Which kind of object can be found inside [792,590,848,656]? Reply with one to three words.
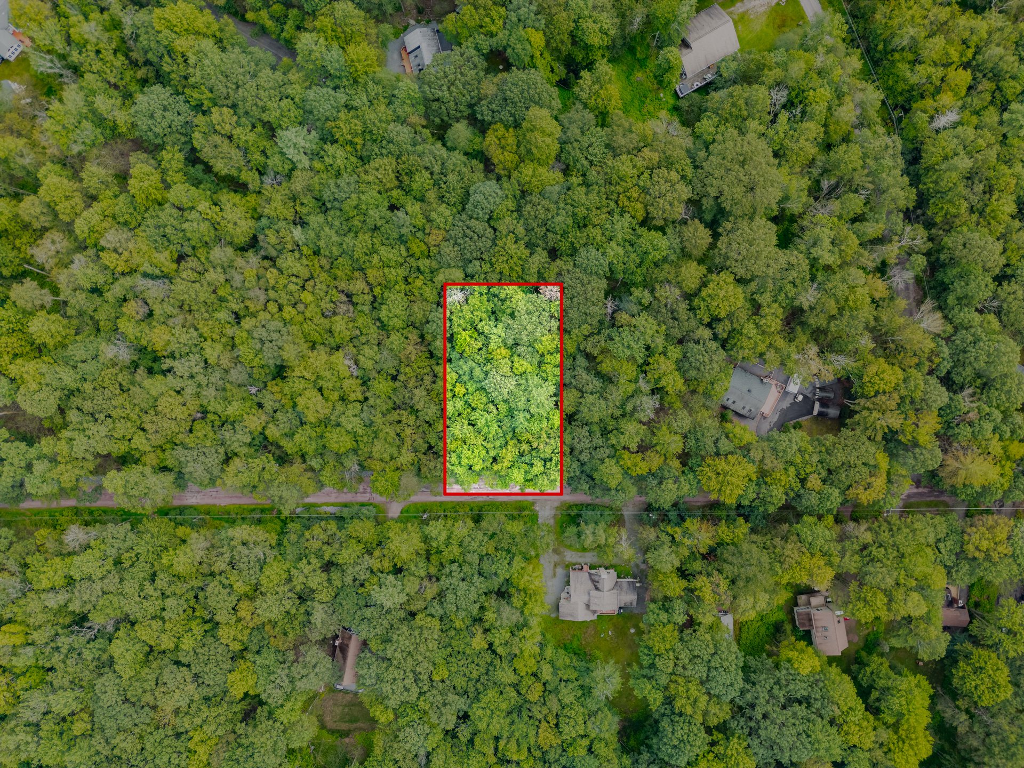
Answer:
house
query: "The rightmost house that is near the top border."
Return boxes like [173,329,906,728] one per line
[674,3,740,101]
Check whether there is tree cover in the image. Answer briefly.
Yes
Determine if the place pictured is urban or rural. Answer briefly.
rural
